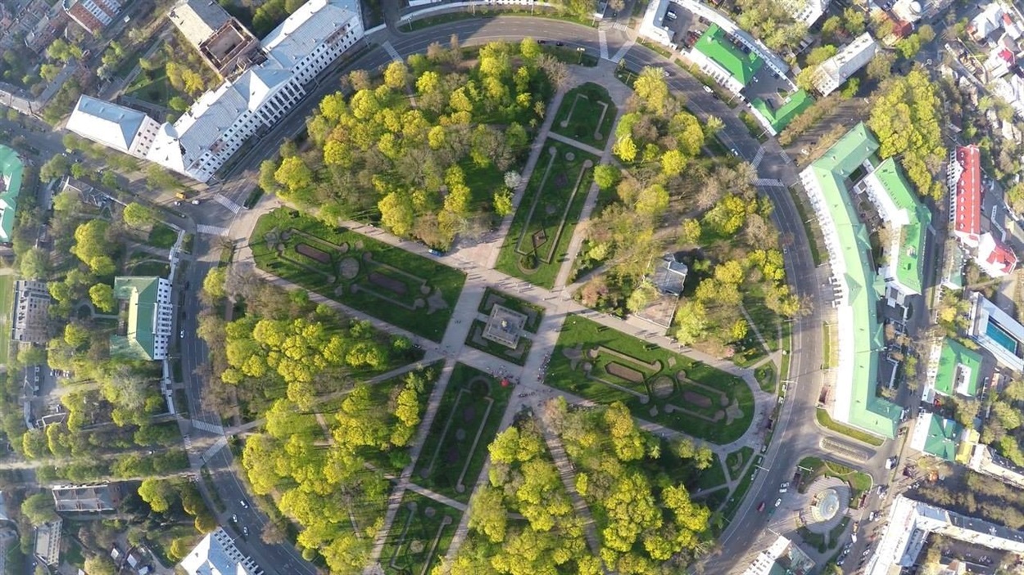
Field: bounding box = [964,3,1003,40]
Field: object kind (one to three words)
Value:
house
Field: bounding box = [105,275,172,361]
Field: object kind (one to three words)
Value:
building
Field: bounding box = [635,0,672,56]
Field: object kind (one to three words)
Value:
house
